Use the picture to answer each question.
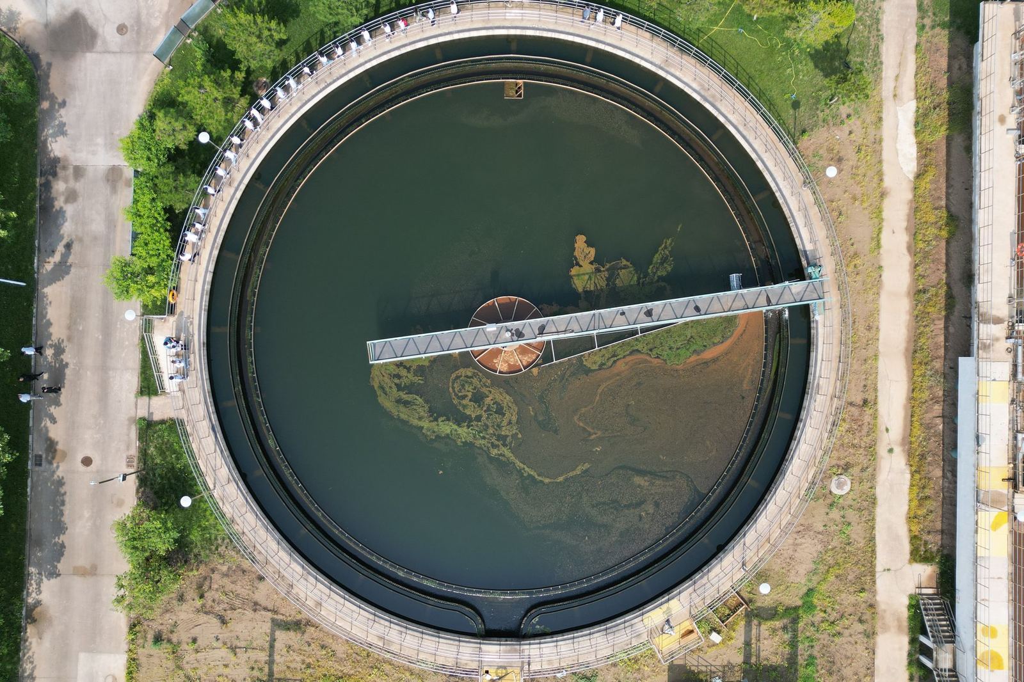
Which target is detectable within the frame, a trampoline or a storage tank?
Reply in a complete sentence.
Of the two, only a storage tank appears.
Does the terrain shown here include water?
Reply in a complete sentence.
Yes, the picture does contain water.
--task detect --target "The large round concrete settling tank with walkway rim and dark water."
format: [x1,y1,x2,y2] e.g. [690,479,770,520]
[178,6,840,667]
